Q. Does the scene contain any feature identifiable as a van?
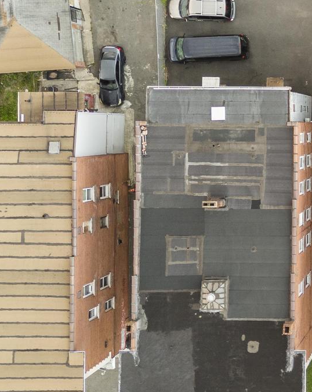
Yes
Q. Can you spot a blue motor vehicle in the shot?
No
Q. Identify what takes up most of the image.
buildings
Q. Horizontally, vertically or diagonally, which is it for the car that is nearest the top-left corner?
vertically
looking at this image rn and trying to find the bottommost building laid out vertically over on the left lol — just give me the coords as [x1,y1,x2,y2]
[0,111,130,392]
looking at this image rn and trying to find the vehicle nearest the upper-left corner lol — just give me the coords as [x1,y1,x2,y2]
[96,45,129,107]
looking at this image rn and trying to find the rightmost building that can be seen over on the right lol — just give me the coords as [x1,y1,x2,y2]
[118,87,312,392]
